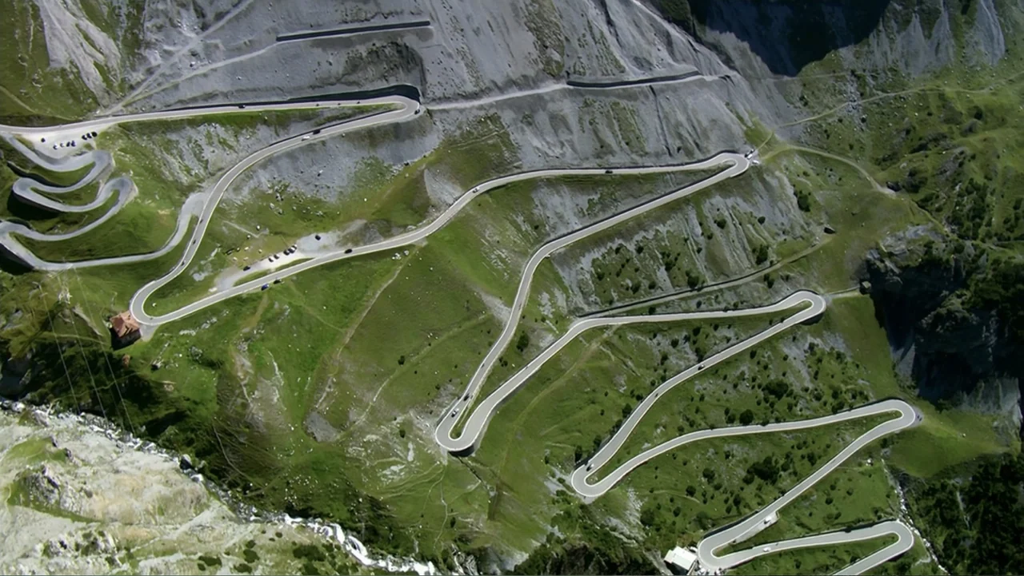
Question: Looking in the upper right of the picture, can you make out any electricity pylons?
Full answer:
No, there's no electricity pylon to be seen in the upper right of the picture.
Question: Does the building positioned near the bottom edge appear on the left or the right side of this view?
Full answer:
The building positioned near the bottom edge sits on the right side.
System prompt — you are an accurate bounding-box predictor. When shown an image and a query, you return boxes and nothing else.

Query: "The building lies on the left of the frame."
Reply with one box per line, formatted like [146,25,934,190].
[106,311,140,351]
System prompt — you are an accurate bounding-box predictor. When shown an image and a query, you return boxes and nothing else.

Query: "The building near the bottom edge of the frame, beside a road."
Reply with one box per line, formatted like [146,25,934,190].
[660,546,699,575]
